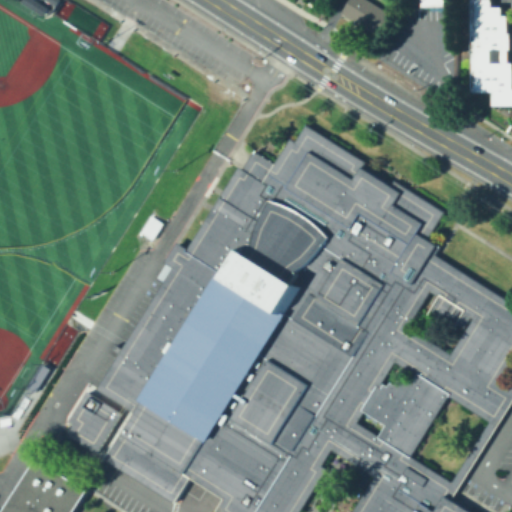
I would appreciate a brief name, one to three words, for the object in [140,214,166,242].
shed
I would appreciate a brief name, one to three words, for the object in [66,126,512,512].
building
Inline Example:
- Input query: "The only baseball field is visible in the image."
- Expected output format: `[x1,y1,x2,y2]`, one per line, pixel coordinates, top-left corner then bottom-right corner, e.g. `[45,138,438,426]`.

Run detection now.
[0,0,203,414]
